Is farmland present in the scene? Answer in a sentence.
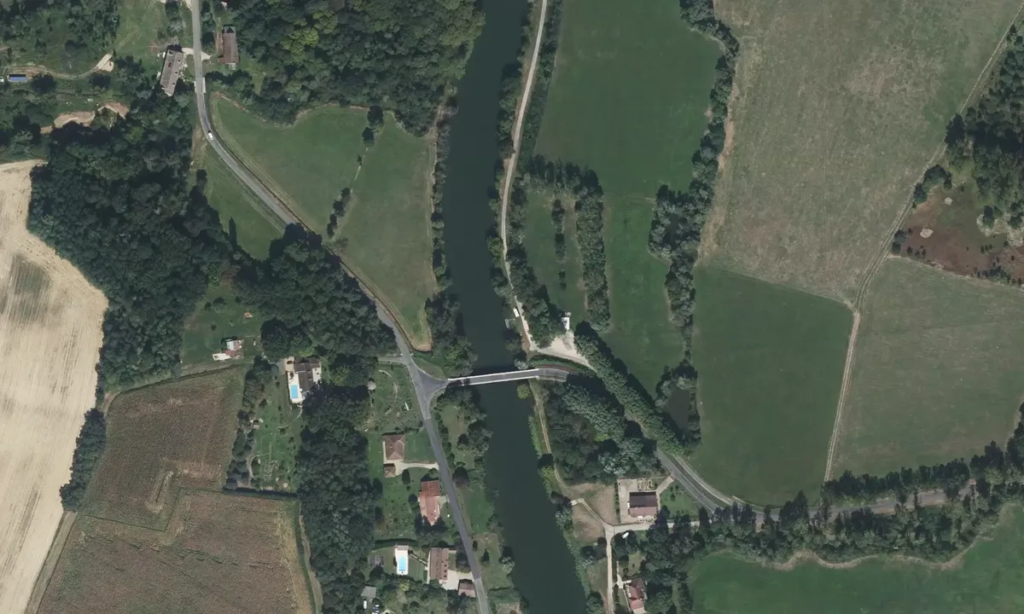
Yes, farmland shows up in the scene.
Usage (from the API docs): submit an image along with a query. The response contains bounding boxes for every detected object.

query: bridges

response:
[446,369,541,387]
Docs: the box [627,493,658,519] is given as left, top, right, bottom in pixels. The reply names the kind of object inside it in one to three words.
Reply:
house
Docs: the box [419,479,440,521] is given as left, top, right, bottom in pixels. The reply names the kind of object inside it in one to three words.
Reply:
house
